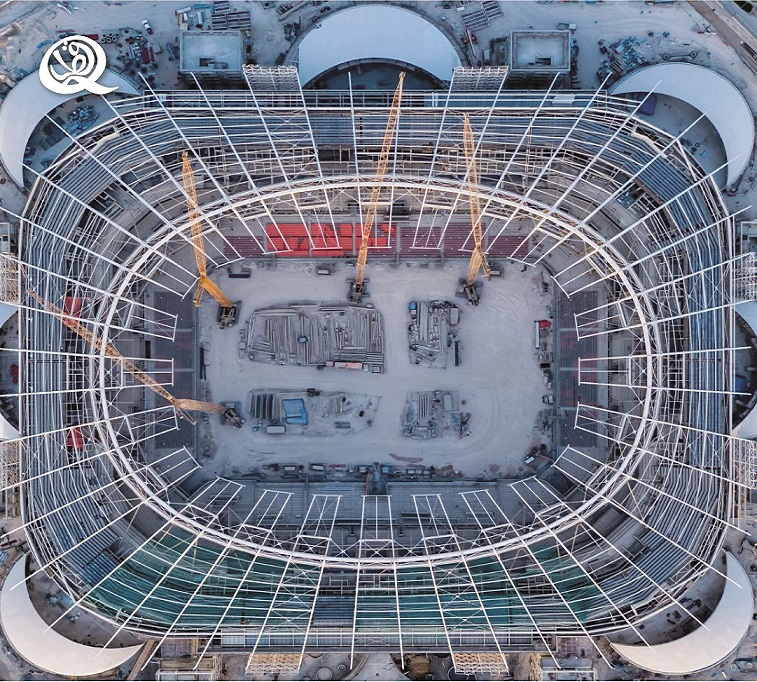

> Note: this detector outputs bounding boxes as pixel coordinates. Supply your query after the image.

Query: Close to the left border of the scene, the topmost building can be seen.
[0,59,143,197]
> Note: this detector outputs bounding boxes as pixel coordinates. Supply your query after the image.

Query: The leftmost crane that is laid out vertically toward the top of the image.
[182,151,233,337]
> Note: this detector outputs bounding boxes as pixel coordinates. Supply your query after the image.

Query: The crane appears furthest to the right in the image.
[446,111,492,309]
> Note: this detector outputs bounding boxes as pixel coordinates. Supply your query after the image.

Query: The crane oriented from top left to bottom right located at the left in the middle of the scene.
[25,288,249,429]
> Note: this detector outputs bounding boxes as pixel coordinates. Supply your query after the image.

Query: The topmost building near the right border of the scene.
[606,59,757,197]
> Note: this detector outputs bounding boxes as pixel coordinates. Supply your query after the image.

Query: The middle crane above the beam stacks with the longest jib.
[344,70,404,310]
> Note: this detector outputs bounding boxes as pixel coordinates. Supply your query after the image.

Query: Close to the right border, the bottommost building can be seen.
[602,546,757,682]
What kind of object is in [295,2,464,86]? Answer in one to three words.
building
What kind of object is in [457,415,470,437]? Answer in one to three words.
vehicle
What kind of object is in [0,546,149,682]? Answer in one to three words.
building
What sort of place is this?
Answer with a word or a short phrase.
sports ground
